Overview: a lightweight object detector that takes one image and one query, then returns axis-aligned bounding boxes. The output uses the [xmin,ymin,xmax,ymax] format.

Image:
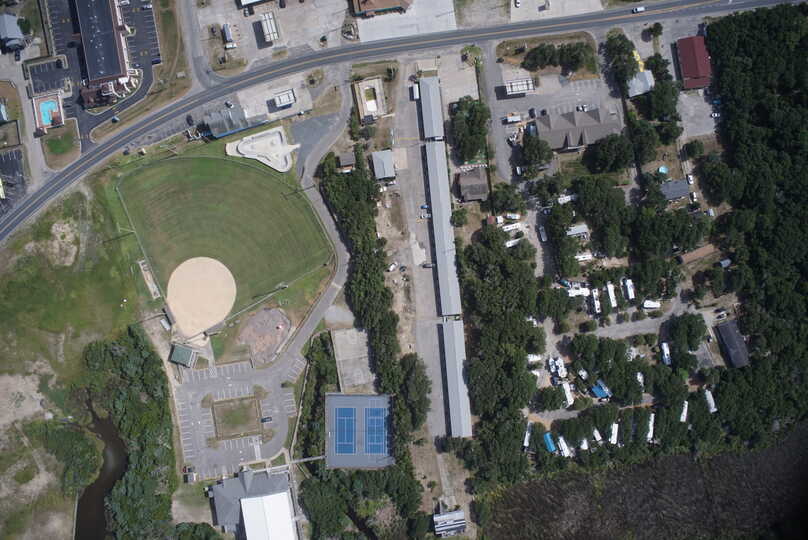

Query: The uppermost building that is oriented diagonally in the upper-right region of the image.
[626,71,654,98]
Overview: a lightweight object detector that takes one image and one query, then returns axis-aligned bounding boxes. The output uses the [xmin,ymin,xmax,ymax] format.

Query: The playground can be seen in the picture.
[238,309,290,362]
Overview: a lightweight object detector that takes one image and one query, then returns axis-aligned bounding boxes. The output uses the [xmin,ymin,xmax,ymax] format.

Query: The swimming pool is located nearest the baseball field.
[32,94,63,128]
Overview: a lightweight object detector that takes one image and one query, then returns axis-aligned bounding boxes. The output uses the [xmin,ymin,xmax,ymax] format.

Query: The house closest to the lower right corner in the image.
[714,320,750,369]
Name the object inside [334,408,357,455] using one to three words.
tennis court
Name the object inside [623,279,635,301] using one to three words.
vehicle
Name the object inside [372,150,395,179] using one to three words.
shed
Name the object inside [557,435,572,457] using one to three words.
vehicle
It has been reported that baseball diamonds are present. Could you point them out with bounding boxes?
[118,156,335,346]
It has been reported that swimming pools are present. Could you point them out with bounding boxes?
[32,94,63,128]
[659,164,669,174]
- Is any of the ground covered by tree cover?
Yes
